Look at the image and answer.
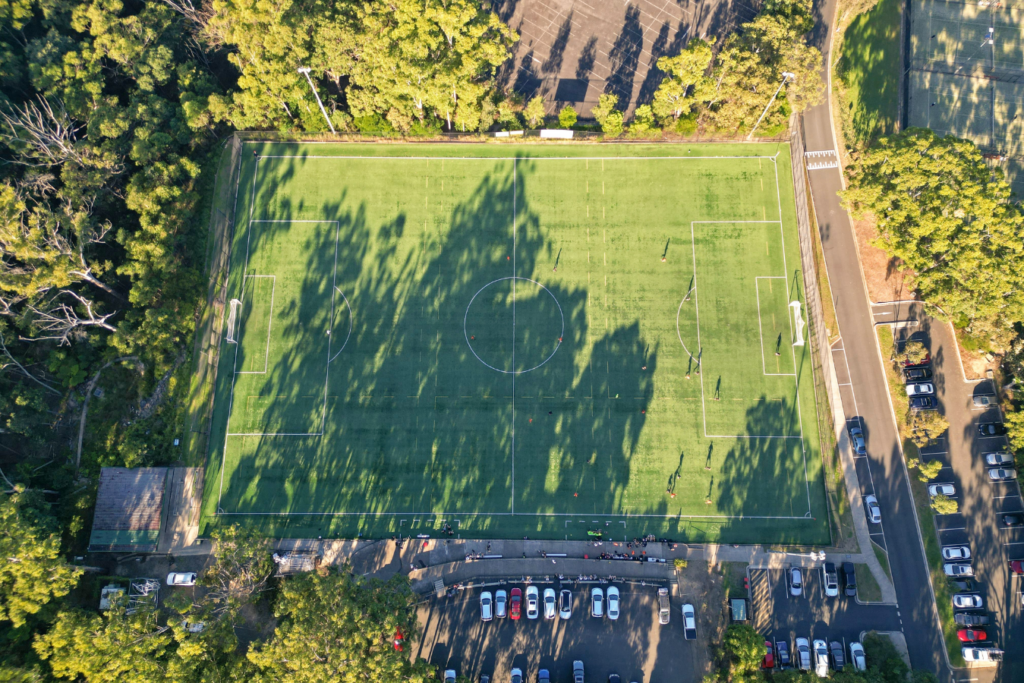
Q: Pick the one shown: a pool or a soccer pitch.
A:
soccer pitch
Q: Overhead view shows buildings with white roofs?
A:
No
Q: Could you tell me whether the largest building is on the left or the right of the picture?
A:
left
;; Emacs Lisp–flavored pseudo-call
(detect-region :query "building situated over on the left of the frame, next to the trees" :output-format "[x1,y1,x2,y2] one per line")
[87,467,170,553]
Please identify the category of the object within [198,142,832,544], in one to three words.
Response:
soccer field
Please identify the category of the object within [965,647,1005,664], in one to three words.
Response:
vehicle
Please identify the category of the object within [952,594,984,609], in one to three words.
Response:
car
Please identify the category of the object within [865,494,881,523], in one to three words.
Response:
car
